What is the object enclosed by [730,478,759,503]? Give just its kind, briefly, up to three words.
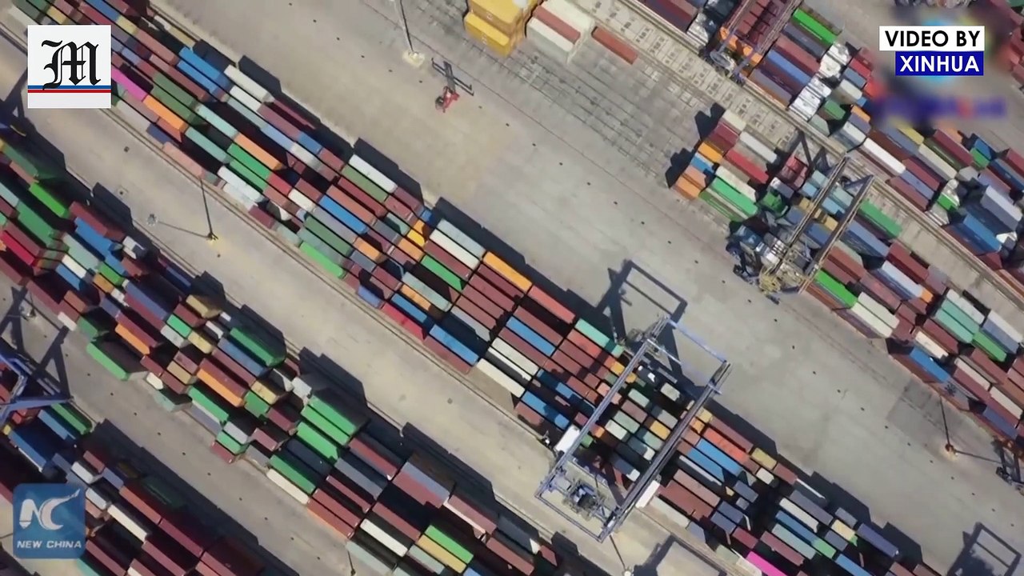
shipping container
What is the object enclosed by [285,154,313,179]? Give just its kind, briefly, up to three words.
shipping container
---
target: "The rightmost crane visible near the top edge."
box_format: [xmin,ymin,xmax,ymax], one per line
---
[703,0,809,86]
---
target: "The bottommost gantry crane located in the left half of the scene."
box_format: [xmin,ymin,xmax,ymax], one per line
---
[0,361,92,440]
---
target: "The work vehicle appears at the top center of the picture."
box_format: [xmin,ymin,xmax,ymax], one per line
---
[421,64,461,112]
